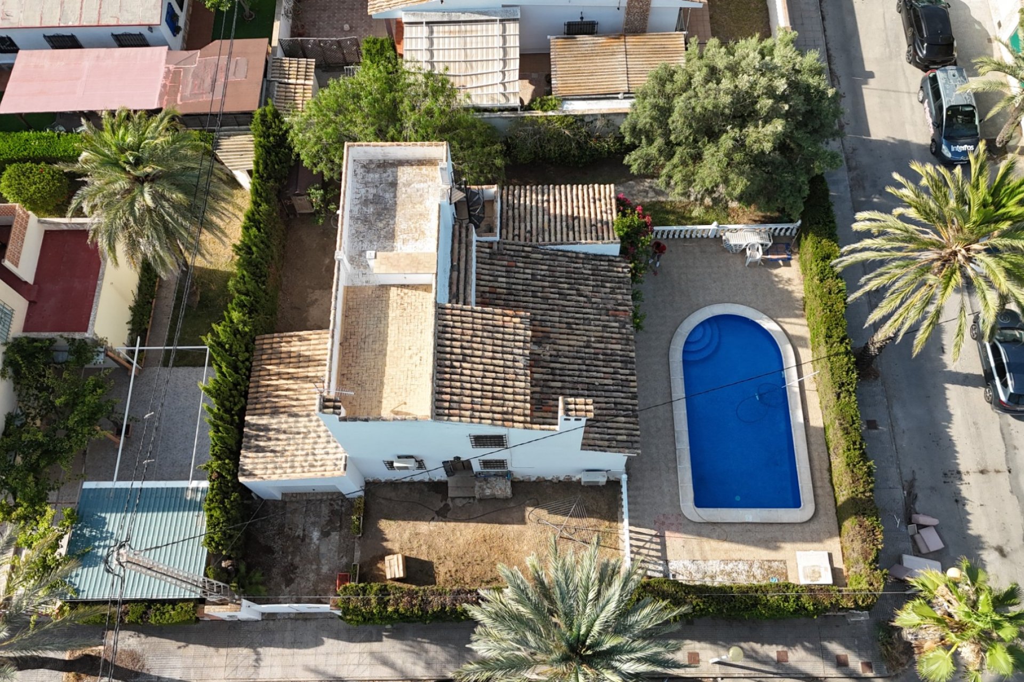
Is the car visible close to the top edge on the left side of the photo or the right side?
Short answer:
right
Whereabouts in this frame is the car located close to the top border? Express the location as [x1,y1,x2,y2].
[895,0,954,67]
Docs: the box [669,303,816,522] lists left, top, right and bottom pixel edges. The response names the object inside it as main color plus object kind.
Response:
blue swimming pool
